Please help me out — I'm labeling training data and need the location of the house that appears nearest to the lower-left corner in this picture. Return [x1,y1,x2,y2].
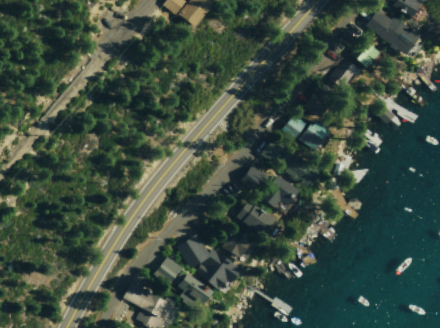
[122,284,176,328]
